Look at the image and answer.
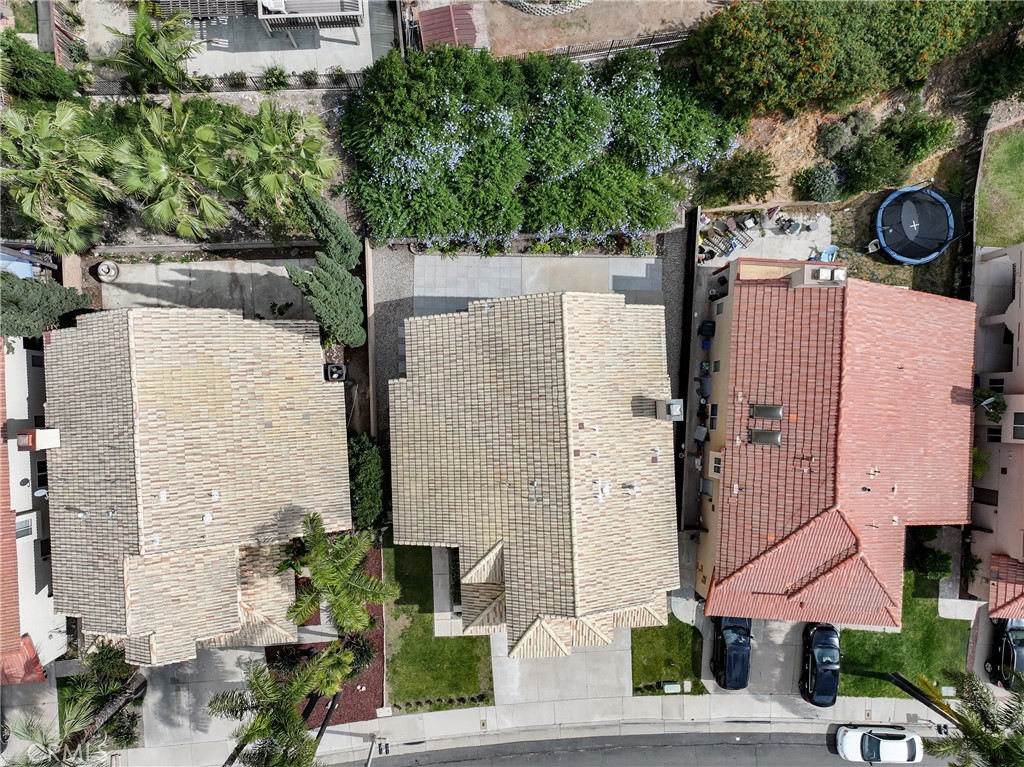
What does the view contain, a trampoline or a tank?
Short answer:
trampoline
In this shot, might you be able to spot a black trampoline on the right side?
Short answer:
Yes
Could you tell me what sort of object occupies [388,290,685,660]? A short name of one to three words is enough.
house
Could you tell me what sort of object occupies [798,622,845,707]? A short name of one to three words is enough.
car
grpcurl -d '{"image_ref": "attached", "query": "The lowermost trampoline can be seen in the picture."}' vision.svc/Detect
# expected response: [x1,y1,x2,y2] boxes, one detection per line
[873,177,972,267]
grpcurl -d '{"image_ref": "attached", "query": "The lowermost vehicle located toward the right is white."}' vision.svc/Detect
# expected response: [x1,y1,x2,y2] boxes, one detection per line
[833,722,924,767]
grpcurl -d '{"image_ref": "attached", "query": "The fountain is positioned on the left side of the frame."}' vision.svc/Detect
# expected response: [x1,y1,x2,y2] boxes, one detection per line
[94,260,117,281]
